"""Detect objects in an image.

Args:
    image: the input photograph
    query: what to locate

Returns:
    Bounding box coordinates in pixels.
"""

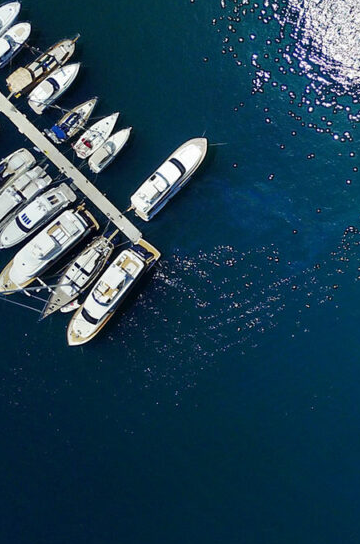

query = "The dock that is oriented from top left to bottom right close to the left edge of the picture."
[0,92,144,240]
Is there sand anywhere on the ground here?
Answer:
No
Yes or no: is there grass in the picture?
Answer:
No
